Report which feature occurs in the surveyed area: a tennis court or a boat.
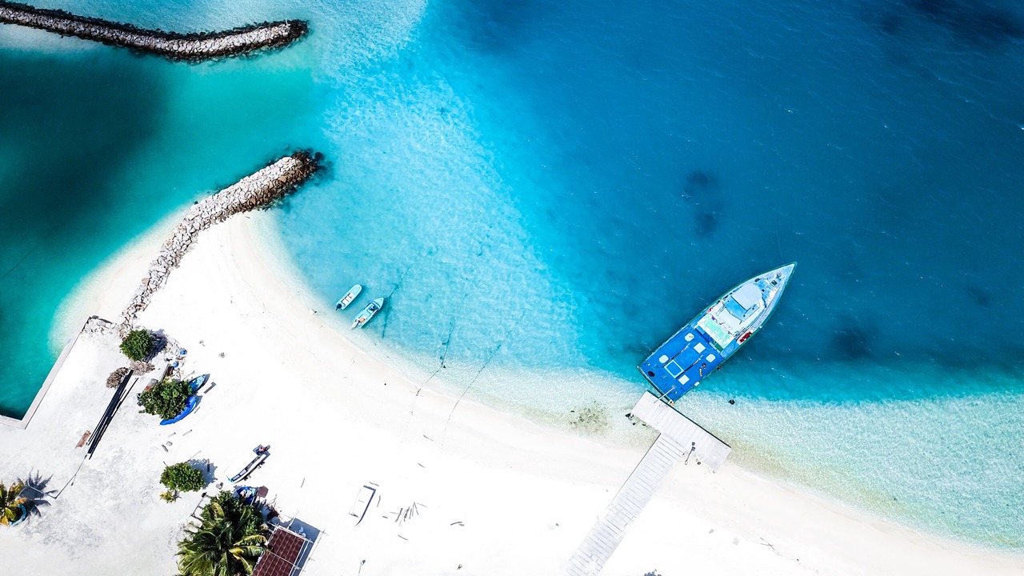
boat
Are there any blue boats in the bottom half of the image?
Yes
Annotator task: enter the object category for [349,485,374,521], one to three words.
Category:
boat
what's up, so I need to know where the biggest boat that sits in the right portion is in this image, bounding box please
[637,262,798,406]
